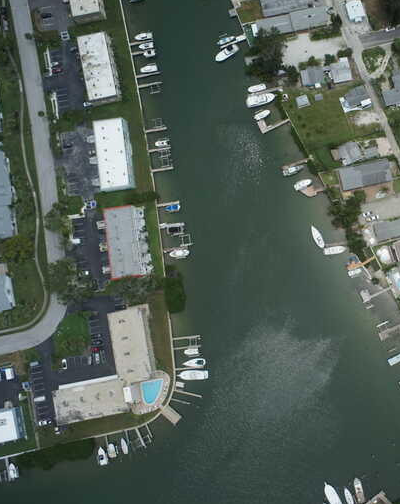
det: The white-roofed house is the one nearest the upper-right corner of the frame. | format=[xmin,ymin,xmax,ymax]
[346,0,366,25]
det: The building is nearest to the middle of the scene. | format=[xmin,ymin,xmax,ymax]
[97,206,156,279]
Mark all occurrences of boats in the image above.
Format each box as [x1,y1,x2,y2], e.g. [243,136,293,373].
[155,140,170,146]
[121,437,129,455]
[170,248,192,257]
[135,32,155,40]
[167,204,182,211]
[245,94,275,107]
[143,49,156,57]
[140,64,160,72]
[346,487,354,504]
[182,357,209,367]
[139,41,155,49]
[253,110,270,121]
[247,84,266,93]
[167,228,181,234]
[348,269,361,277]
[327,483,341,504]
[356,479,364,503]
[217,43,240,60]
[217,35,235,44]
[282,166,303,177]
[107,443,117,459]
[293,180,312,190]
[312,226,326,249]
[98,447,107,468]
[9,462,18,480]
[184,348,200,354]
[179,369,211,379]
